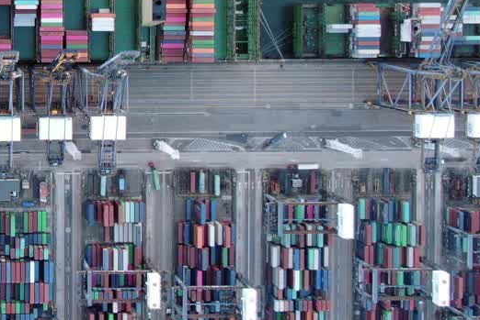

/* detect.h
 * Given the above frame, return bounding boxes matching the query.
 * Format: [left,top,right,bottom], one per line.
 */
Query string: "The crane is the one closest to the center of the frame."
[260,192,353,241]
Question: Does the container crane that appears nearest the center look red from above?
No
